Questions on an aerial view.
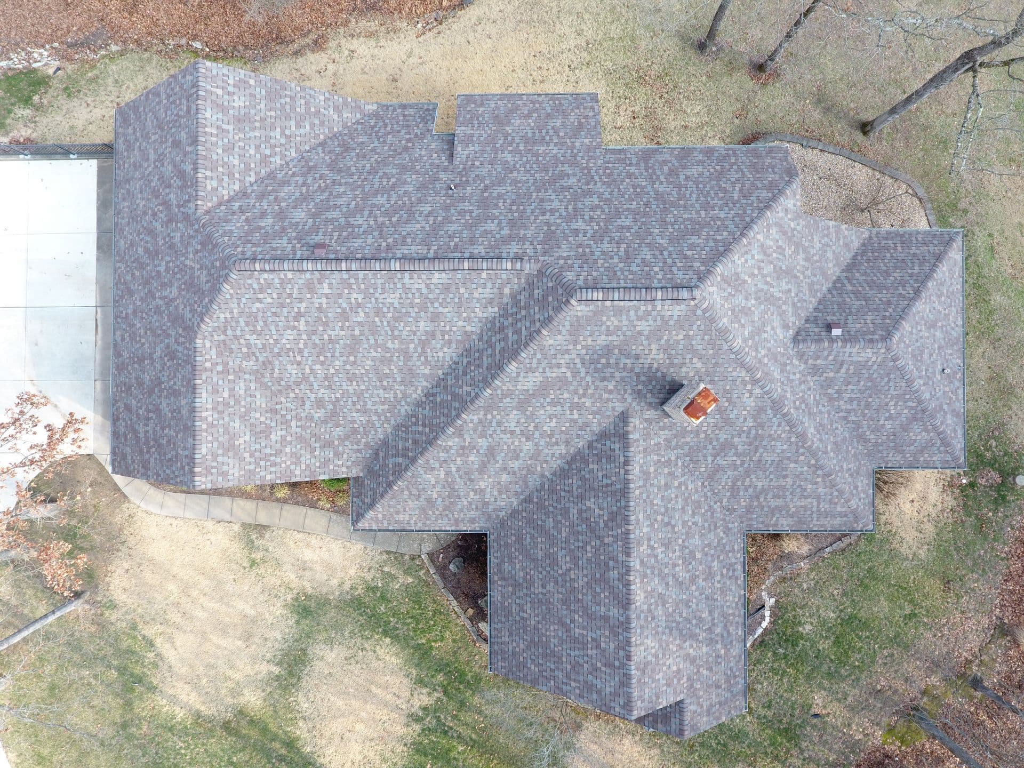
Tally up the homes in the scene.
1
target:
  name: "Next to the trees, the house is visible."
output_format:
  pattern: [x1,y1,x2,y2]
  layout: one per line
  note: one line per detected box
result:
[108,57,969,739]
